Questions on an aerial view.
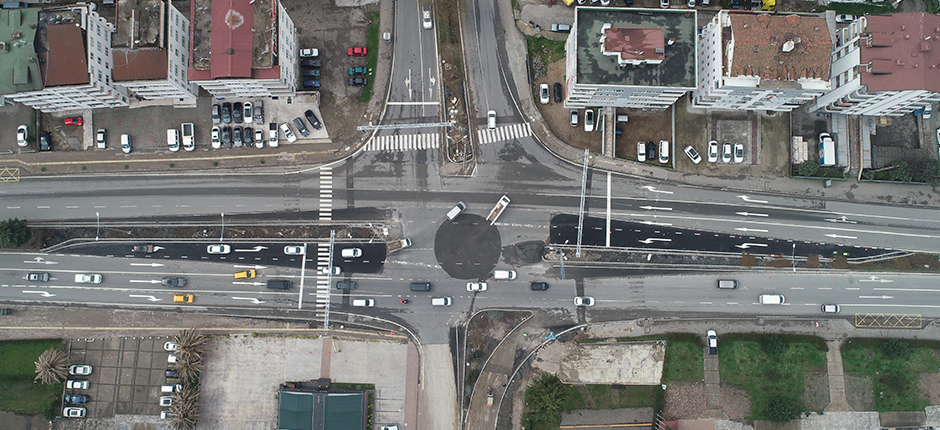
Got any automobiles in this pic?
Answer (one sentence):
Yes, looking at the shot, I can spot an automobile.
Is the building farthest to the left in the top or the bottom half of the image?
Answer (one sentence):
The building farthest to the left sits in the top half of the picture.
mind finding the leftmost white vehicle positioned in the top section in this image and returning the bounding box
[17,125,29,146]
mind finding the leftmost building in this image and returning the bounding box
[0,2,129,118]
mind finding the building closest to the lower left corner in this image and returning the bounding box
[278,375,368,430]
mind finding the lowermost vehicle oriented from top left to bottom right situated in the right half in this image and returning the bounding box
[683,145,701,164]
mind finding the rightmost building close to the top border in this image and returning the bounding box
[811,12,940,118]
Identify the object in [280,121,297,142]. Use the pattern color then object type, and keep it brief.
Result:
white car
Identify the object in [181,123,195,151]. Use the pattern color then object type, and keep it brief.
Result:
white vehicle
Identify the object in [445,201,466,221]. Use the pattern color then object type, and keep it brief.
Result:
white vehicle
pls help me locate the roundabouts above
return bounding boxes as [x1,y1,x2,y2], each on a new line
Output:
[435,218,501,280]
